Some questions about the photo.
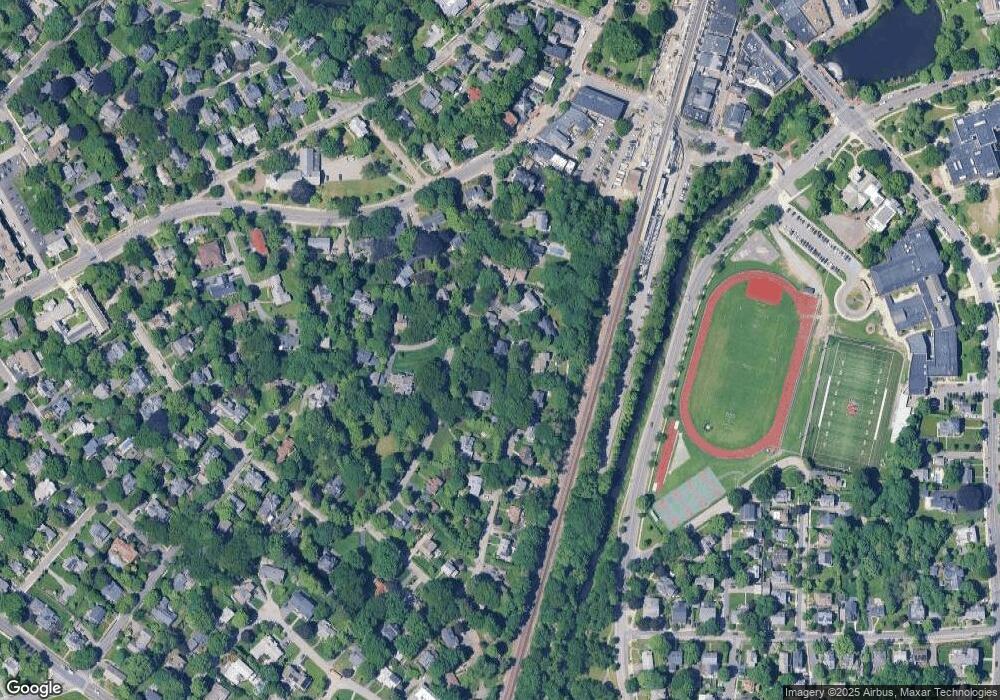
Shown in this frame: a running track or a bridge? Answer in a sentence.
I can see a running track in this picture.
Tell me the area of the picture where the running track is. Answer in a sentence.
You can find the running track in the right area of the picture.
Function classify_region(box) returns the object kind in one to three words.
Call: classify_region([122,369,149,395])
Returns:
house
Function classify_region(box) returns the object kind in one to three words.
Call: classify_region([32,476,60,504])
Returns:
house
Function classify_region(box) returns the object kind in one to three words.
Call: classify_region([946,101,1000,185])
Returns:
building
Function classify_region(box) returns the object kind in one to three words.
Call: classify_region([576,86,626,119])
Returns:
building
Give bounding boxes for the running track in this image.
[682,268,820,460]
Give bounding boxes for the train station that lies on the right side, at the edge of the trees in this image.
[633,2,714,242]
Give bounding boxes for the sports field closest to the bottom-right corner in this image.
[806,336,904,474]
